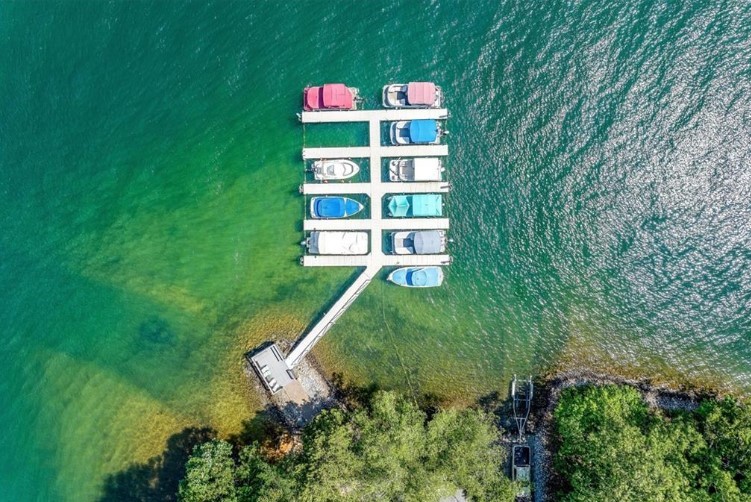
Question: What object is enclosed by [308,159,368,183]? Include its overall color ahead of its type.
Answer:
white boat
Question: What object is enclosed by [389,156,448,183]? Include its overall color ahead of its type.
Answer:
white boat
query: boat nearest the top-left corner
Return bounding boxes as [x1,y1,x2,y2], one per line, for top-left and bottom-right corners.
[304,83,362,114]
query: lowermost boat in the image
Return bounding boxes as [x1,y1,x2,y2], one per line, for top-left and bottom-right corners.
[387,262,447,289]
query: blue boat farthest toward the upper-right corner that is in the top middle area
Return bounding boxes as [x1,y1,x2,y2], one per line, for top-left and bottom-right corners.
[390,119,447,145]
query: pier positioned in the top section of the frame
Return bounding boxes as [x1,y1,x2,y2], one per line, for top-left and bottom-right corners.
[302,108,450,280]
